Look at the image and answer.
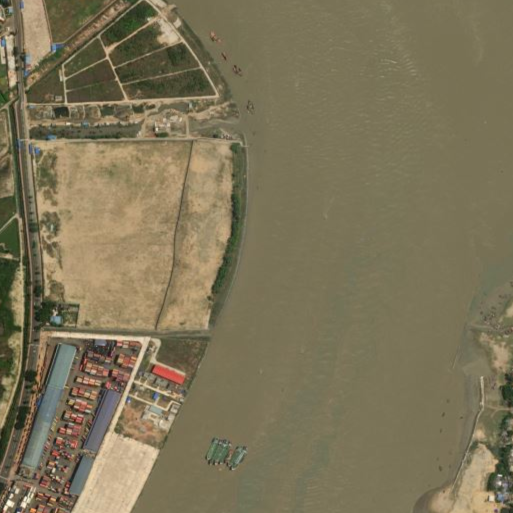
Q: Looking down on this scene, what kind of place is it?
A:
port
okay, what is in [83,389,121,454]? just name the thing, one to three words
building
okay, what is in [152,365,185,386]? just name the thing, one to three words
building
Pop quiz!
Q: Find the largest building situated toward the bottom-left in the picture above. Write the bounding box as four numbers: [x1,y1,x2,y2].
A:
[21,343,76,470]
